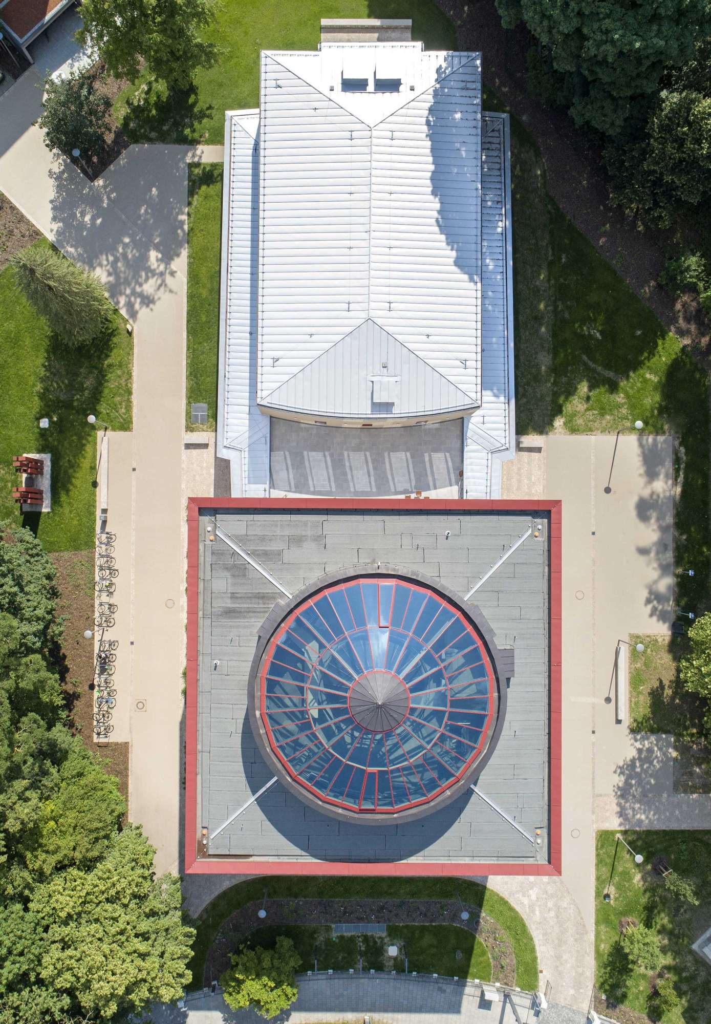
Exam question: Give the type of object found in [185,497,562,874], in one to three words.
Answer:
building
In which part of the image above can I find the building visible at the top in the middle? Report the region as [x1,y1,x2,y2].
[217,42,514,500]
